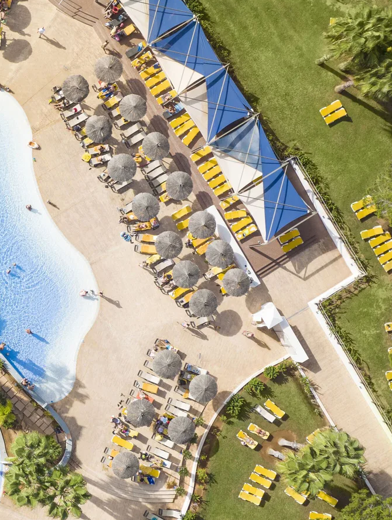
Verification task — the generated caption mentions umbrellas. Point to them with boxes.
[107,153,136,182]
[152,350,181,378]
[141,131,169,161]
[220,268,249,298]
[82,115,112,145]
[128,192,158,222]
[117,93,147,122]
[165,416,194,444]
[188,374,216,402]
[169,261,199,290]
[92,55,122,85]
[124,397,153,427]
[111,449,139,478]
[204,239,233,268]
[186,210,215,240]
[163,170,192,200]
[153,230,181,259]
[188,289,217,319]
